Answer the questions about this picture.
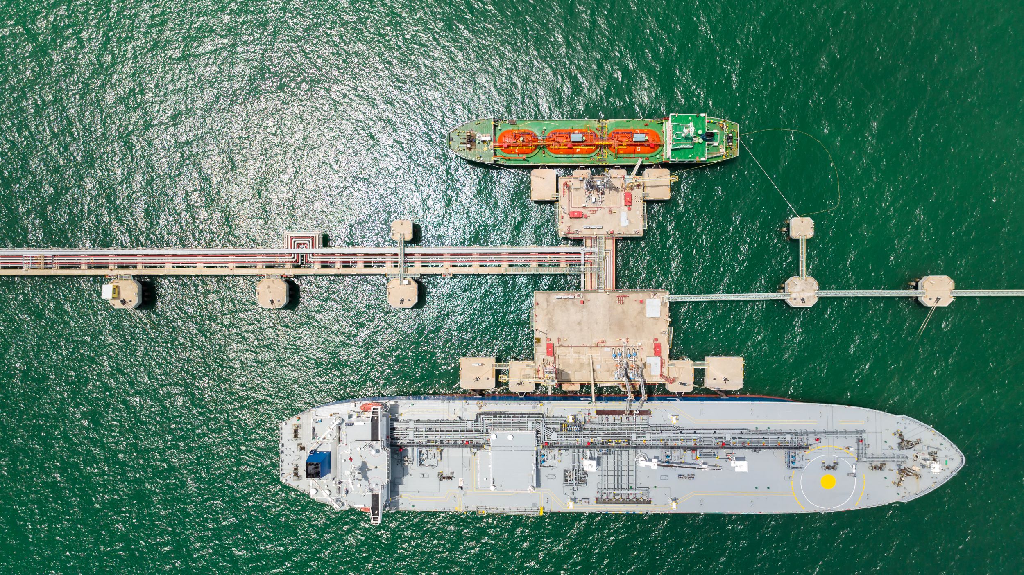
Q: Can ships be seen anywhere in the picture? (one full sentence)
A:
Yes, the image includes a ship.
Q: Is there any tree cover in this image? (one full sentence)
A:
No, the picture contains no tree cover.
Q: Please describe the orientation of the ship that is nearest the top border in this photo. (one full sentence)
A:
What the image shows is the ship that is nearest the top border lying from side to side.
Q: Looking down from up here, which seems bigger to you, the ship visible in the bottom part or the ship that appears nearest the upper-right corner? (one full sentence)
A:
The ship visible in the bottom part covers a greater area than the ship that appears nearest the upper-right corner.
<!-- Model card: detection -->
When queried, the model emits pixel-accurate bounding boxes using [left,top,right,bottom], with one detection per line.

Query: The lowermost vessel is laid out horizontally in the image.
[280,395,966,526]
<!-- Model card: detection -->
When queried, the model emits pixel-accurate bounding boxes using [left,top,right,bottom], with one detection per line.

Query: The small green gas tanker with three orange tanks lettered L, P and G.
[446,112,740,167]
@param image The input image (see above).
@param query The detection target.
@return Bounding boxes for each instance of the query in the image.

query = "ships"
[446,112,740,167]
[280,395,966,526]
